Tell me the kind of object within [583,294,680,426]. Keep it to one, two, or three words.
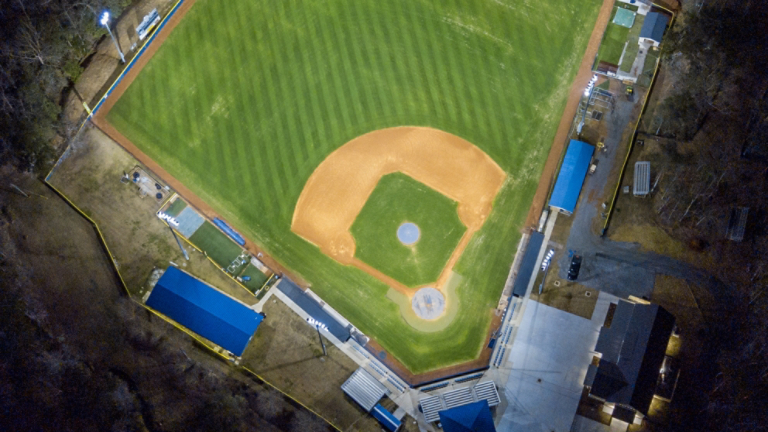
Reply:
building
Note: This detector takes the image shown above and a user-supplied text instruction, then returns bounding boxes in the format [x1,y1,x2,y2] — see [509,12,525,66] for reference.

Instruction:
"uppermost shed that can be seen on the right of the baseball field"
[639,12,668,47]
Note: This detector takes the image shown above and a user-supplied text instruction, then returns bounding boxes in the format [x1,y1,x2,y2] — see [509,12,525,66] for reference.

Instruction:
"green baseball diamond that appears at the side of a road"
[92,0,614,386]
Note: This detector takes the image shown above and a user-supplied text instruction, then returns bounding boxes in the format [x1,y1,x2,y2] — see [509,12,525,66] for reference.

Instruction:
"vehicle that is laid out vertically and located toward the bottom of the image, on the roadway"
[568,256,581,280]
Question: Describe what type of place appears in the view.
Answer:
sports ground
